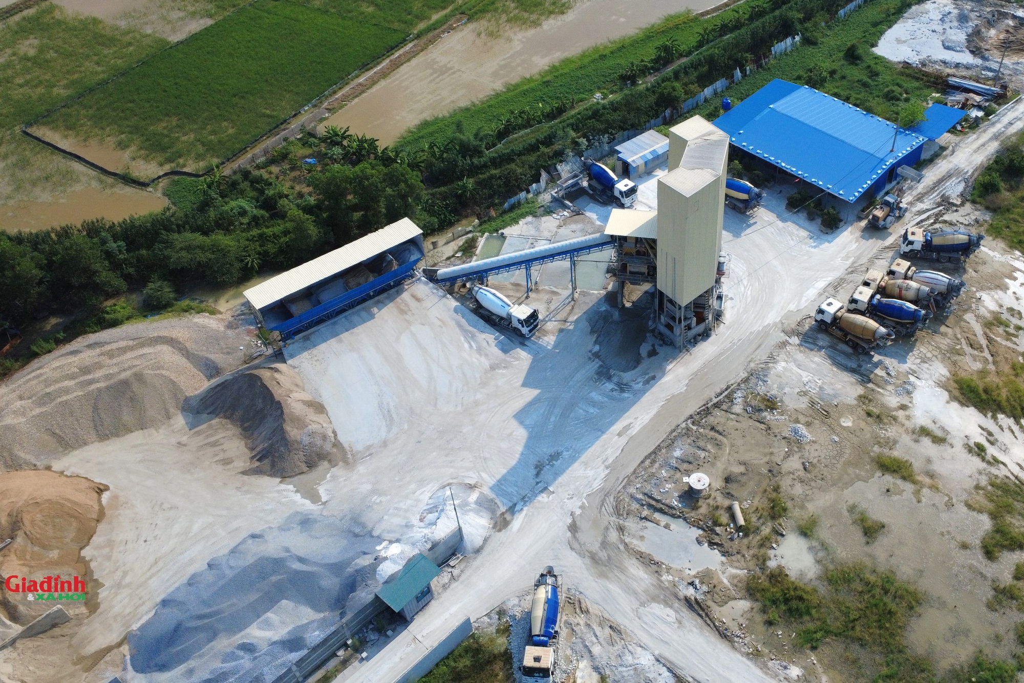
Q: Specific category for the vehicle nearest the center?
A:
truck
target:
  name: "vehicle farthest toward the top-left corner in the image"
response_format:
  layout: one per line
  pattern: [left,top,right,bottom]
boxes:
[464,282,539,340]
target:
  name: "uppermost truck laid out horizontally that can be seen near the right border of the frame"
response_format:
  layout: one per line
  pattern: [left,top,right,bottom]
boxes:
[897,227,987,265]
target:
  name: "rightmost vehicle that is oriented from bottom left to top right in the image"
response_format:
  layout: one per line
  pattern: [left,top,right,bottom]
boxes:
[863,171,927,233]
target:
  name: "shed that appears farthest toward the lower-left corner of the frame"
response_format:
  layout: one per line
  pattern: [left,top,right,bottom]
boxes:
[377,551,440,624]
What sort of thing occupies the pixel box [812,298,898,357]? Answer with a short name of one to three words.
truck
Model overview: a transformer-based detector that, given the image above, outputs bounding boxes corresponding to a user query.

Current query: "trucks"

[852,266,942,313]
[844,284,933,339]
[464,282,539,340]
[579,157,642,209]
[517,566,563,683]
[897,227,987,265]
[882,255,969,308]
[812,298,898,357]
[725,181,768,213]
